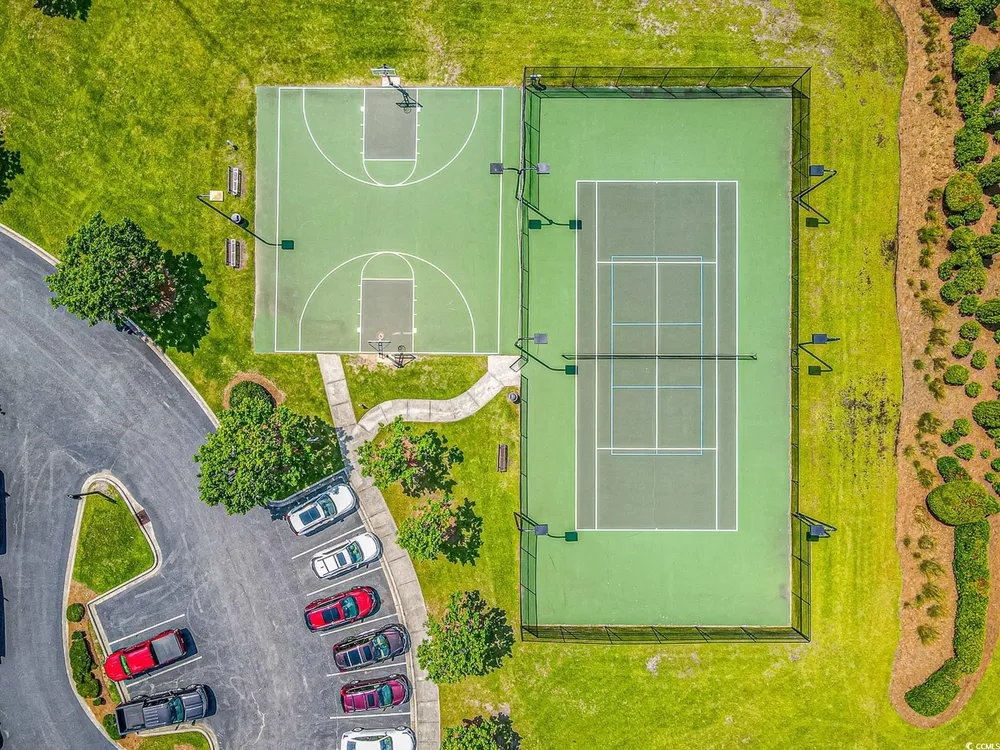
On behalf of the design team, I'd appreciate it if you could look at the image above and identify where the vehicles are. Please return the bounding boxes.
[311,533,383,579]
[342,726,416,750]
[104,628,190,681]
[113,686,209,735]
[305,587,380,633]
[340,676,411,715]
[332,625,411,670]
[285,485,360,536]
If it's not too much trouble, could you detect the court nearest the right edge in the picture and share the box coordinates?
[520,85,793,628]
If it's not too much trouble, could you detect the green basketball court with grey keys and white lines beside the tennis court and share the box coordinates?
[253,86,521,354]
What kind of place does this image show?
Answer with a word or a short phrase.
sports ground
